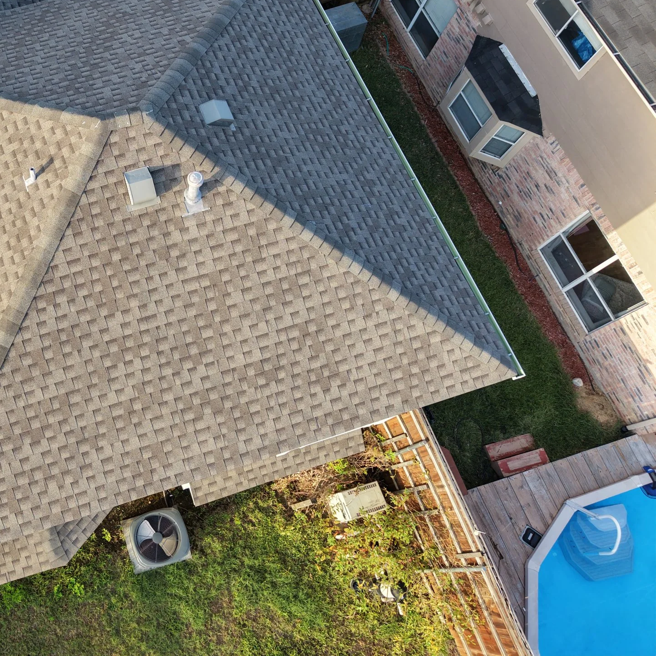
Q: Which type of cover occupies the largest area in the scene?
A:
buildings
